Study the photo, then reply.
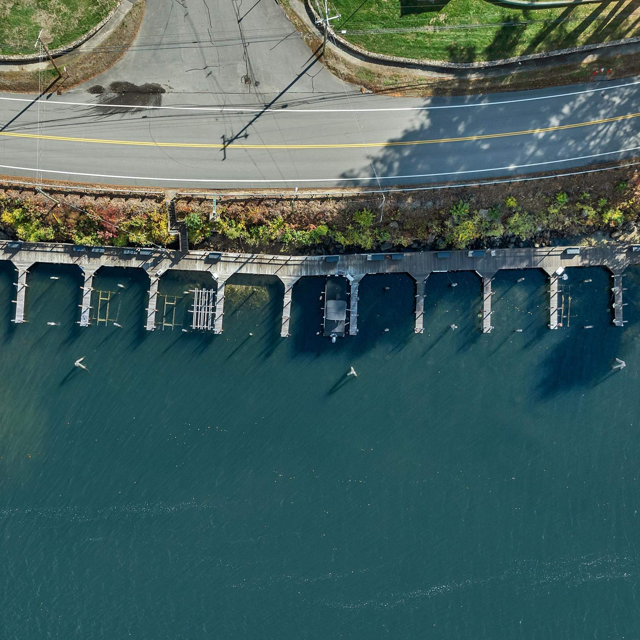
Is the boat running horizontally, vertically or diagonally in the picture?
vertically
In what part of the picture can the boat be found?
center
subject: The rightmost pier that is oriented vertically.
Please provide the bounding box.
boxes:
[605,264,629,327]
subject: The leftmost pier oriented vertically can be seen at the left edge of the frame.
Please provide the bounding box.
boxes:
[10,261,36,323]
